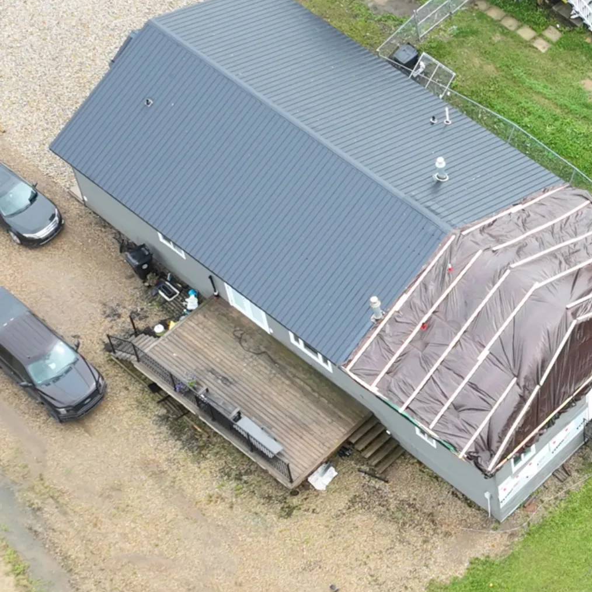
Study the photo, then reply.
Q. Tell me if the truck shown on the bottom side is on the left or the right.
left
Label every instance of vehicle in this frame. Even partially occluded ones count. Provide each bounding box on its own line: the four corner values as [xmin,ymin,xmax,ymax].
[0,290,110,424]
[0,162,65,253]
